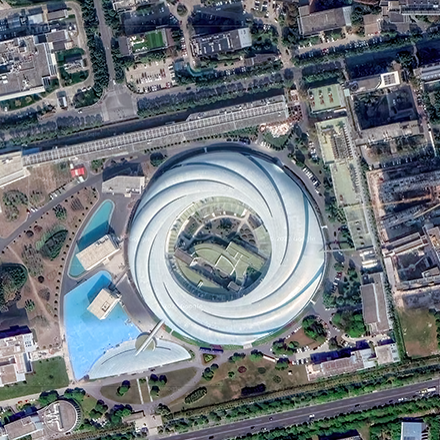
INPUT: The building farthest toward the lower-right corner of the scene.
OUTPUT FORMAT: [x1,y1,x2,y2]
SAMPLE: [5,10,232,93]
[401,422,422,440]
